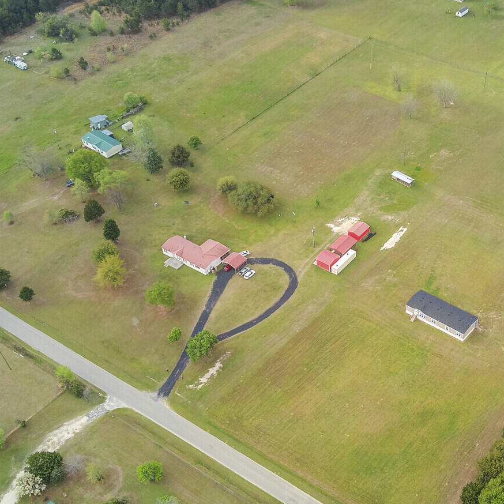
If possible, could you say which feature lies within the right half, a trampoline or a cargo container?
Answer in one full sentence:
What appears within the right half is a cargo container.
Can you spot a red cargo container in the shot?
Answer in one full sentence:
No, I can see no red cargo container in this picture.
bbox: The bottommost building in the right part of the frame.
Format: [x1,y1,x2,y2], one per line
[406,290,478,341]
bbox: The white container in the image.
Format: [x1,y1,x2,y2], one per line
[331,249,357,275]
